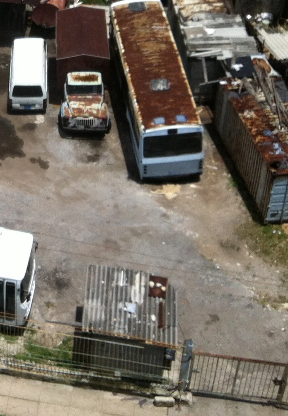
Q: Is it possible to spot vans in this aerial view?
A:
Yes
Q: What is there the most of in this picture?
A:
paved ground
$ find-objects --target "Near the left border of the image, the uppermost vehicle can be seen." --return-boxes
[9,45,51,114]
